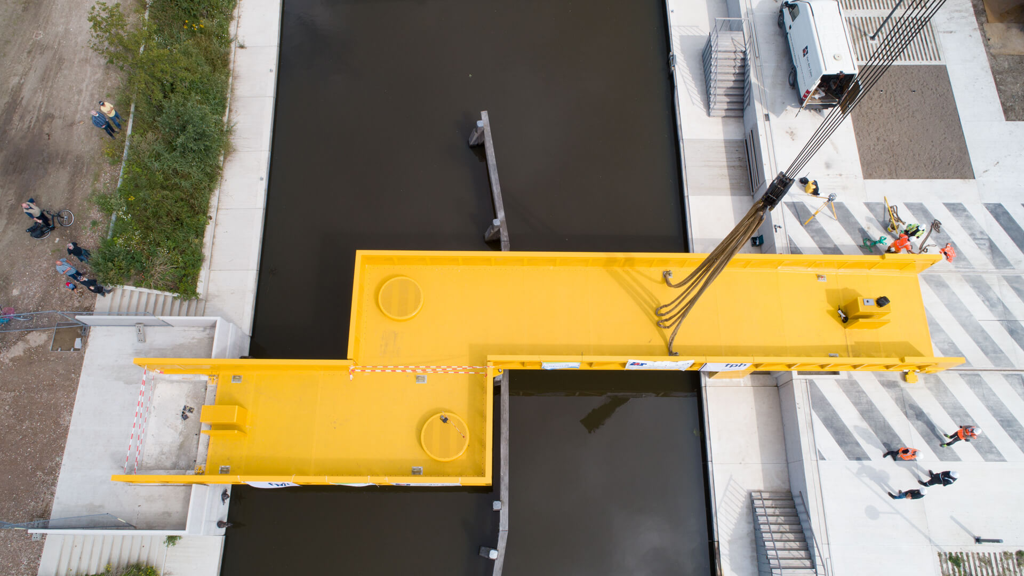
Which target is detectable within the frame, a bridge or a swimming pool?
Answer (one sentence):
Visible in the photo is a bridge.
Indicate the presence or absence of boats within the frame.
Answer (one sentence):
No, I can see no boat in this picture.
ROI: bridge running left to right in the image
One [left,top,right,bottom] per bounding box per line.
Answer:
[110,251,967,487]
